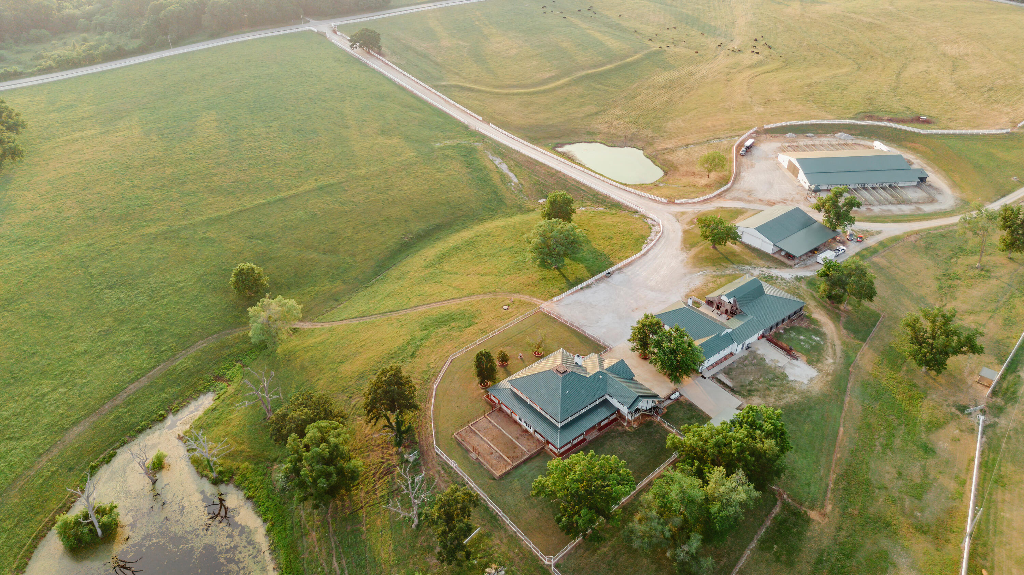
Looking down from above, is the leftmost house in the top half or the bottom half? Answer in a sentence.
Seen from above, the leftmost house lies in the bottom half of the view.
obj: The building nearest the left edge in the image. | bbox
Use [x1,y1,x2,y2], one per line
[487,347,665,461]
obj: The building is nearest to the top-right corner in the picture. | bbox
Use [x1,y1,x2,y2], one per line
[780,150,928,192]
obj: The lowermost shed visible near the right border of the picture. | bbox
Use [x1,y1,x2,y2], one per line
[977,371,1000,390]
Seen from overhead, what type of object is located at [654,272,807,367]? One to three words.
house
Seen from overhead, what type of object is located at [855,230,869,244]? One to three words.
work vehicle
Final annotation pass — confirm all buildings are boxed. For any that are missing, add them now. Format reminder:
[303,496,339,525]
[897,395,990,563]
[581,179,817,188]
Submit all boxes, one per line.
[654,272,807,367]
[735,205,839,268]
[977,371,1000,390]
[487,347,665,461]
[780,150,928,192]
